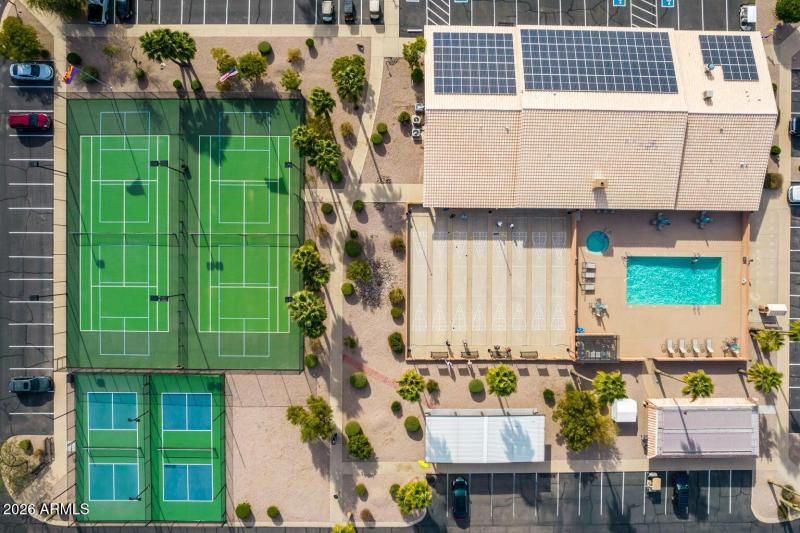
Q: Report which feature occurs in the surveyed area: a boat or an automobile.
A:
automobile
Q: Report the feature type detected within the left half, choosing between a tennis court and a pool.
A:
tennis court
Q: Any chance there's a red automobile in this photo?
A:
Yes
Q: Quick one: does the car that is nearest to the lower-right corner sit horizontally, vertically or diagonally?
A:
vertically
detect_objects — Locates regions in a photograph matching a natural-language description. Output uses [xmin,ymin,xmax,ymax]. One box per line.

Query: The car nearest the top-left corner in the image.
[12,63,55,81]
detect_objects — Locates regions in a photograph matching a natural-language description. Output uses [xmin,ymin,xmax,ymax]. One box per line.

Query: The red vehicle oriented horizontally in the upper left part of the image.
[11,113,52,131]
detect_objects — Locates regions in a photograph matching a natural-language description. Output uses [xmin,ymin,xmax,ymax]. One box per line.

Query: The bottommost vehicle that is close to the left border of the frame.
[11,375,54,393]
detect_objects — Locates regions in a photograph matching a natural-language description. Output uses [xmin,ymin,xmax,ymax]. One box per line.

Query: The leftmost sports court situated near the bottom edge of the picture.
[76,374,150,521]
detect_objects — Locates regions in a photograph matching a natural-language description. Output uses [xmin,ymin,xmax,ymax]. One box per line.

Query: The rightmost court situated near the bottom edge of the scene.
[151,374,225,521]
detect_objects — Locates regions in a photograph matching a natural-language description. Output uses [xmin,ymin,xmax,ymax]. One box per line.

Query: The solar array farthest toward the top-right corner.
[700,34,757,80]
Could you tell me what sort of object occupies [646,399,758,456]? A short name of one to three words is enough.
building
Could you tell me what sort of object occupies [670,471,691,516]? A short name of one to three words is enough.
car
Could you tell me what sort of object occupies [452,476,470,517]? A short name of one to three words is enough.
car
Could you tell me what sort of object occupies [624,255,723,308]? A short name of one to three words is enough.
swimming pool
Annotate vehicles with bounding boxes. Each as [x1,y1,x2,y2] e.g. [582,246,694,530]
[11,375,54,393]
[738,5,757,31]
[343,1,354,22]
[670,471,691,516]
[788,119,800,134]
[11,113,52,131]
[452,476,470,517]
[91,0,110,22]
[12,63,55,81]
[322,0,334,20]
[116,0,135,22]
[370,0,380,19]
[785,187,800,202]
[645,471,661,493]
